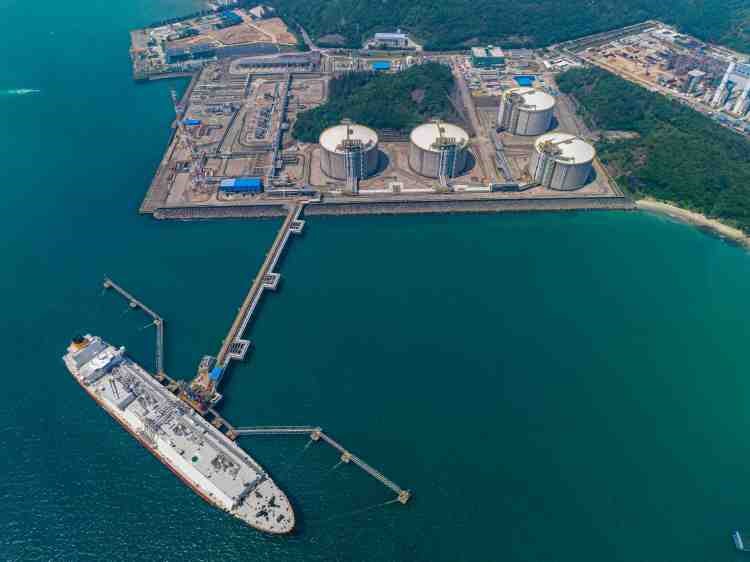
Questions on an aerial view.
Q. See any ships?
Yes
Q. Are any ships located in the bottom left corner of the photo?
Yes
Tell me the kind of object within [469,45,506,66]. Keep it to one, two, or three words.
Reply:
building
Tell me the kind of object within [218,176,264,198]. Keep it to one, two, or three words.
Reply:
building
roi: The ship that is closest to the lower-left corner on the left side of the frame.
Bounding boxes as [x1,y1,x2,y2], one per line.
[62,338,289,527]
